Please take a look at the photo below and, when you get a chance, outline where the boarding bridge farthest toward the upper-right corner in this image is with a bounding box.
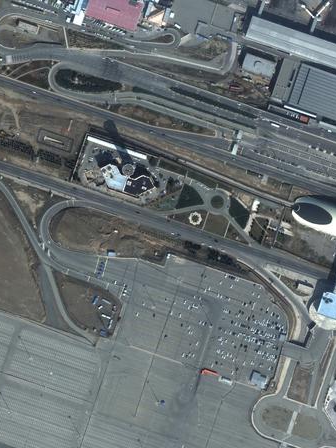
[301,1,331,32]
